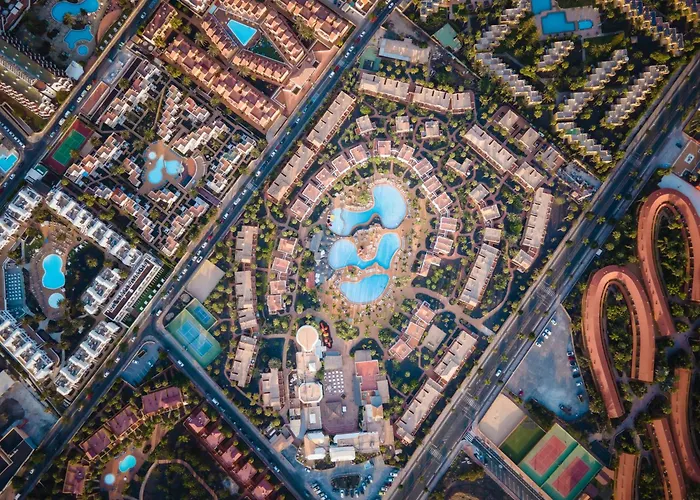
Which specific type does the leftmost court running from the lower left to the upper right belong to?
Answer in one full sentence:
From above, the leftmost court running from the lower left to the upper right can be identified as a tennis court.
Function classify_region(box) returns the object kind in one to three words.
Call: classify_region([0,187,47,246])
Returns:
building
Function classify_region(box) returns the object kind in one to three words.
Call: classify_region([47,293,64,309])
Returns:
swimming pool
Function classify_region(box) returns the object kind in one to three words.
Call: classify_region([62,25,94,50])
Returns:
swimming pool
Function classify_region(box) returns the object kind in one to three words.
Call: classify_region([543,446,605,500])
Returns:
tennis court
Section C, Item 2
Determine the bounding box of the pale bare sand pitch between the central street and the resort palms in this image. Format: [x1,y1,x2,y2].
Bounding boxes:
[187,259,224,303]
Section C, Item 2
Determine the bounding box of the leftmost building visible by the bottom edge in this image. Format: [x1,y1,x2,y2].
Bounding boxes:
[0,425,41,495]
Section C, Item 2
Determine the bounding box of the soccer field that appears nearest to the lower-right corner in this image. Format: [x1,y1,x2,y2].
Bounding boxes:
[500,416,547,467]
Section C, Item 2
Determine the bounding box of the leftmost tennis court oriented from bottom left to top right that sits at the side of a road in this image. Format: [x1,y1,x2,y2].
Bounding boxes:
[40,118,94,175]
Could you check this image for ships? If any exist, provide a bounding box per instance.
[319,320,332,350]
